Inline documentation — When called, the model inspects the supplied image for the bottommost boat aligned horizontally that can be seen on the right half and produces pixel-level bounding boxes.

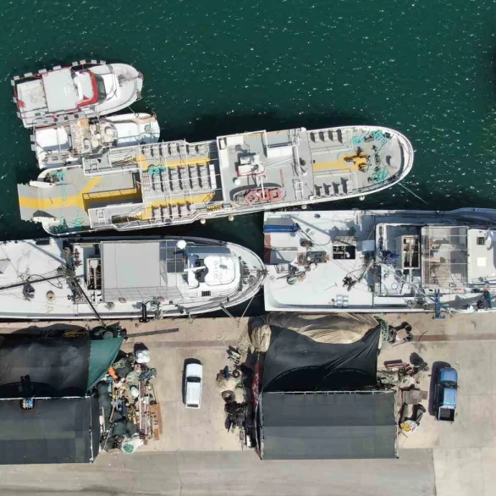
[263,207,496,320]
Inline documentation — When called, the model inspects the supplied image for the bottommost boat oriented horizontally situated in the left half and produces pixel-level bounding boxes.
[0,237,270,325]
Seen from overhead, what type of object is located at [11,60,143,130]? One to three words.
boat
